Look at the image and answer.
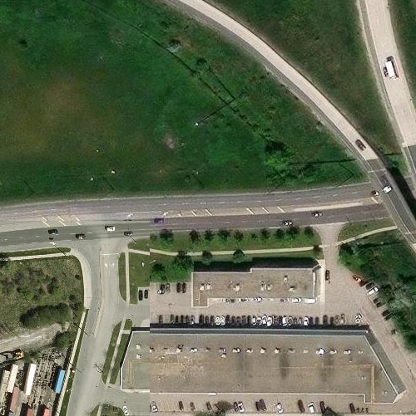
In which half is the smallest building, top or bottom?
bottom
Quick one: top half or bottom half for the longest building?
bottom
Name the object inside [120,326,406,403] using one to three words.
building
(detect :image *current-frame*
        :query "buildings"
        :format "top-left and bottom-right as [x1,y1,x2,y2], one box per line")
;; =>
[120,326,406,403]
[193,264,322,307]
